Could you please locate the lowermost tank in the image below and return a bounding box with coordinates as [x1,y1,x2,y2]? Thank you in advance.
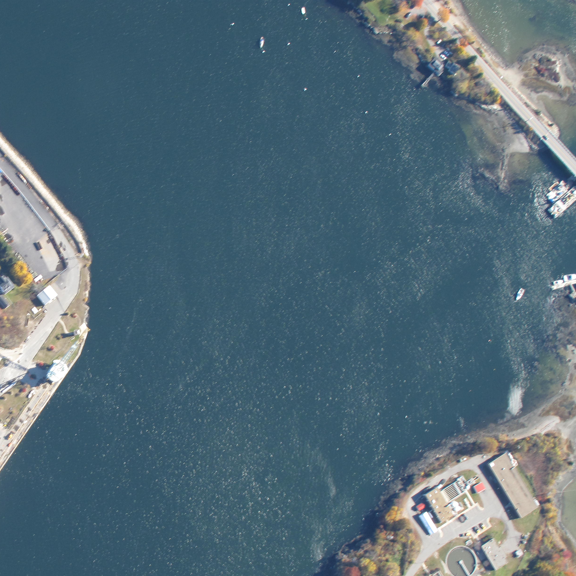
[445,547,477,576]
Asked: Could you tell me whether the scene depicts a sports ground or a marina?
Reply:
marina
